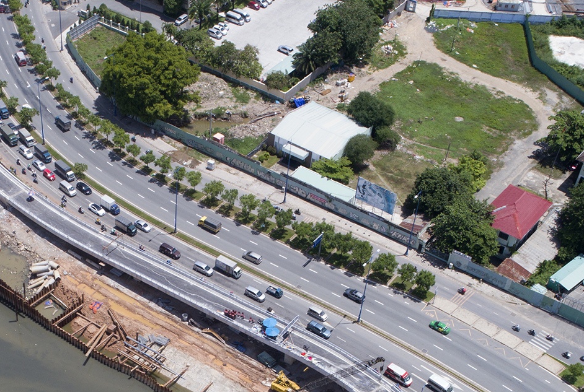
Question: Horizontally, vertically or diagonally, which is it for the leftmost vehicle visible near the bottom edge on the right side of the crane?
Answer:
diagonally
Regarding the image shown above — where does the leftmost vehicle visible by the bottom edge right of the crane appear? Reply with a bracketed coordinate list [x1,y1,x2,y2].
[384,363,411,388]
